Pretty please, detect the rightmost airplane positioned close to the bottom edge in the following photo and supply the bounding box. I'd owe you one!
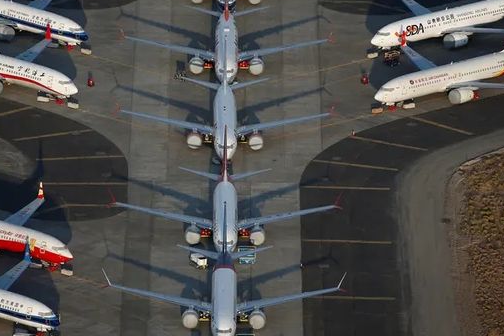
[103,203,345,336]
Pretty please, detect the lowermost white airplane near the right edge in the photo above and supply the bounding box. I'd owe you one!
[375,31,504,110]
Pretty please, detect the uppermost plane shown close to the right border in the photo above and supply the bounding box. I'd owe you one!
[372,0,504,53]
